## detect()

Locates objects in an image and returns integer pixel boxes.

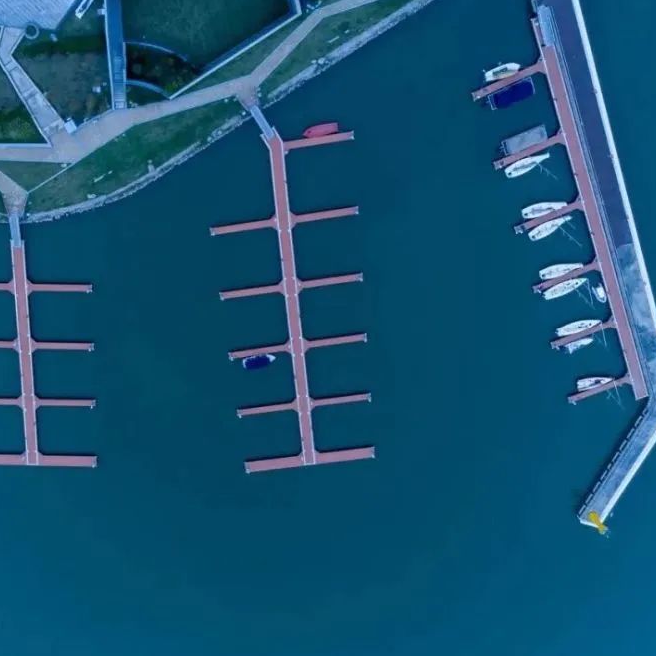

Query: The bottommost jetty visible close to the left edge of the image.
[0,238,98,470]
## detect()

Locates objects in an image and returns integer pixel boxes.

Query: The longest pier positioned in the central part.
[210,126,375,475]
